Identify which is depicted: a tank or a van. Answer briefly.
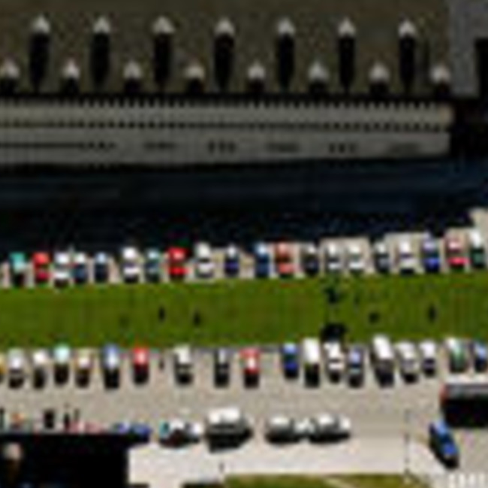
van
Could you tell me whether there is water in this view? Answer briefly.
No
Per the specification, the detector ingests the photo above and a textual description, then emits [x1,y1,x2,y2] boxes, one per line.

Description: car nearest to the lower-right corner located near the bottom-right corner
[426,423,462,458]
